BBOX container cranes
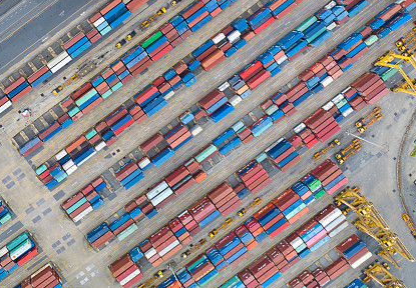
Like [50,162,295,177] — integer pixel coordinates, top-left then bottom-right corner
[353,219,416,275]
[360,260,407,288]
[373,51,416,93]
[334,183,395,239]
